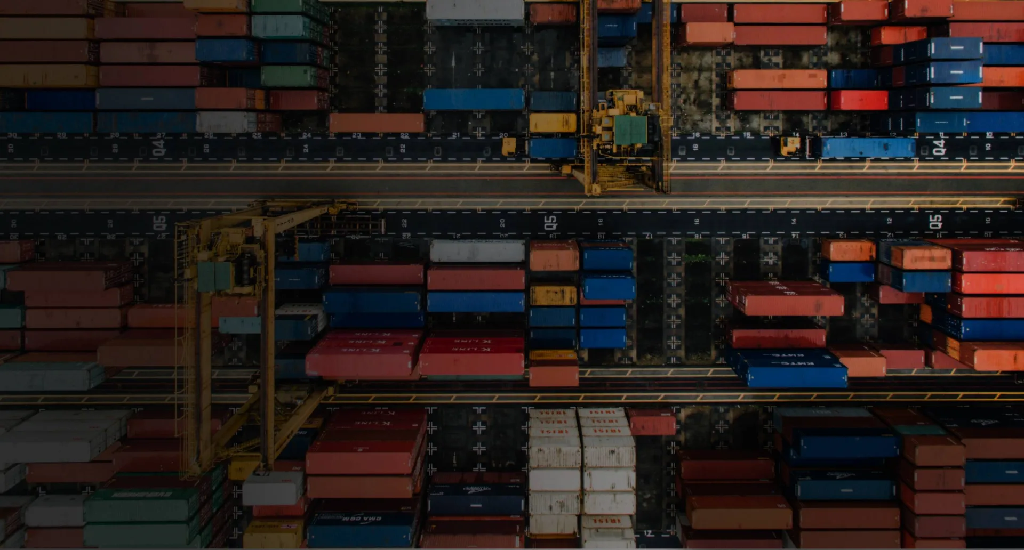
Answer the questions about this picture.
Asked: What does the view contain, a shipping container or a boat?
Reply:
shipping container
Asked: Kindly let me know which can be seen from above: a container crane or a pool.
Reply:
container crane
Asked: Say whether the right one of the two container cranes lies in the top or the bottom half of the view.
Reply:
top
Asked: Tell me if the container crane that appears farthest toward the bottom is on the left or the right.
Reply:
left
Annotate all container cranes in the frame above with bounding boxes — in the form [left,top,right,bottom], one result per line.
[548,0,673,197]
[180,201,355,476]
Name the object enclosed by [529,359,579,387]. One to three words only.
shipping container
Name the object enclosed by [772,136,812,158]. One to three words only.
truck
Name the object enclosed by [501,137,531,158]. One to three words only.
truck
